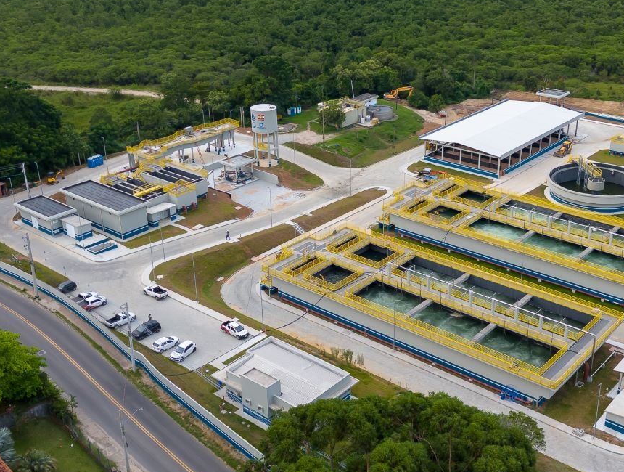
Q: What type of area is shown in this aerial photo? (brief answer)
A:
industrial area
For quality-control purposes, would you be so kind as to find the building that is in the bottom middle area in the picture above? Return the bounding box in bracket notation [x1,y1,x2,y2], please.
[207,334,360,424]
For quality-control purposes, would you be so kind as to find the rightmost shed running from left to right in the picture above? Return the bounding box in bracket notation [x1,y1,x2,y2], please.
[418,100,589,178]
